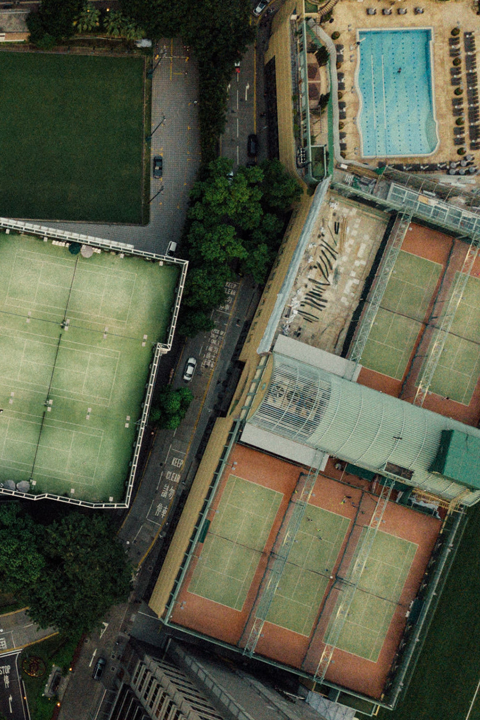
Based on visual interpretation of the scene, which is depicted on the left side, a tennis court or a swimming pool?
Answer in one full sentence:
There is a tennis court on the left side.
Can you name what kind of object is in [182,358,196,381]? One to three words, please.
vehicle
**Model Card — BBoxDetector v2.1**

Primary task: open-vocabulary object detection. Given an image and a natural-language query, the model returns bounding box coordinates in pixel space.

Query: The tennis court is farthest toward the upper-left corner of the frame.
[5,249,136,329]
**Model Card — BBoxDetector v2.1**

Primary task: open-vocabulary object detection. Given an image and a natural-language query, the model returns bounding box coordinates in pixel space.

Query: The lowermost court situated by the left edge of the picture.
[0,409,103,485]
